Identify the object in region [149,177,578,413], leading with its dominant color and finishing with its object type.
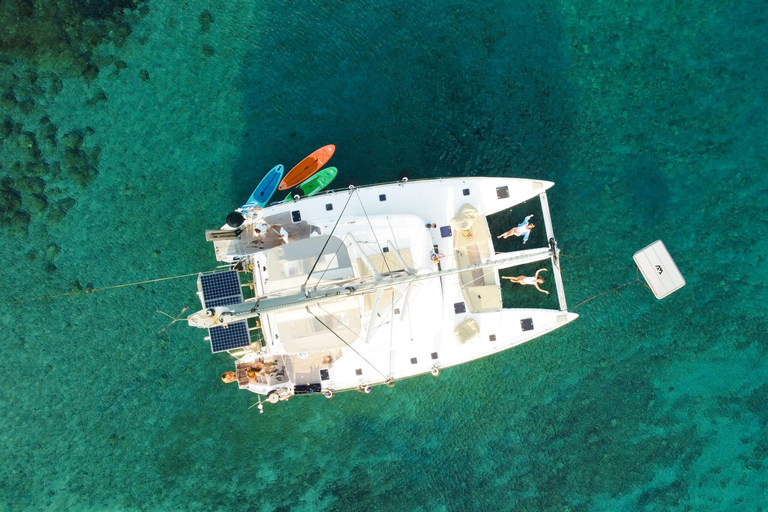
white boat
